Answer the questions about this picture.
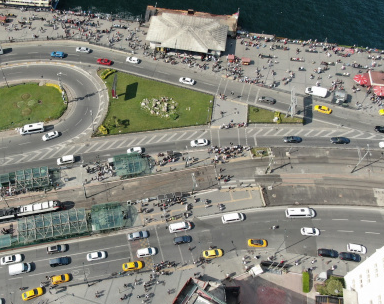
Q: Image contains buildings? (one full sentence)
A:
Yes, the photo shows a building.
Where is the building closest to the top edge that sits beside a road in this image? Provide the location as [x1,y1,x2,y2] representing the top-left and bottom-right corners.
[145,12,230,63]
